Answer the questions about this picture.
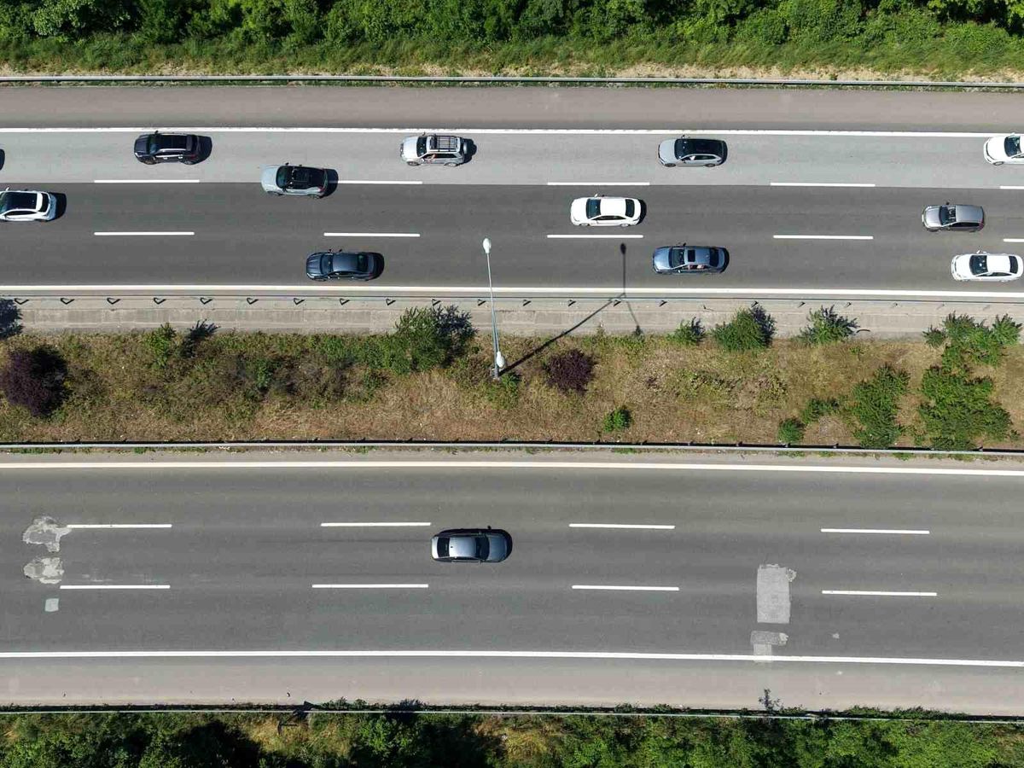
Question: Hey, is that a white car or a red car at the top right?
white car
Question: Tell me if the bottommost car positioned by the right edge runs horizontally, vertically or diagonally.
horizontally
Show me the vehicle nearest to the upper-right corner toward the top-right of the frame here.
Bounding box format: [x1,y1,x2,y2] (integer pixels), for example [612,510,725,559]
[982,129,1024,165]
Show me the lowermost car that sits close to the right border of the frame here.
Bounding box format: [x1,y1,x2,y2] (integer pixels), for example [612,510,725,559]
[950,246,1023,282]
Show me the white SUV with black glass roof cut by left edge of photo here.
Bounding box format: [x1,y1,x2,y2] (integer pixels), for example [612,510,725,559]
[0,184,60,221]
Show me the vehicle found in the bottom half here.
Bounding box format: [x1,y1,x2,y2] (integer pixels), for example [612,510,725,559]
[432,528,507,567]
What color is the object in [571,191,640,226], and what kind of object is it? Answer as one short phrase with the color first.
white car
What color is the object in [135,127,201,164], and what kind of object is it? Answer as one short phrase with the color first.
black car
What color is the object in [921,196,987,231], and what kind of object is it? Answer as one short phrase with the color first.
gray car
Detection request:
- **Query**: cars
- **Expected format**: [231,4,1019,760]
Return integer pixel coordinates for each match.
[401,129,464,166]
[135,127,201,164]
[262,161,328,198]
[982,129,1024,165]
[921,196,987,231]
[0,184,60,221]
[653,238,725,274]
[658,130,726,166]
[308,245,376,281]
[432,528,507,567]
[950,246,1023,282]
[571,191,640,226]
